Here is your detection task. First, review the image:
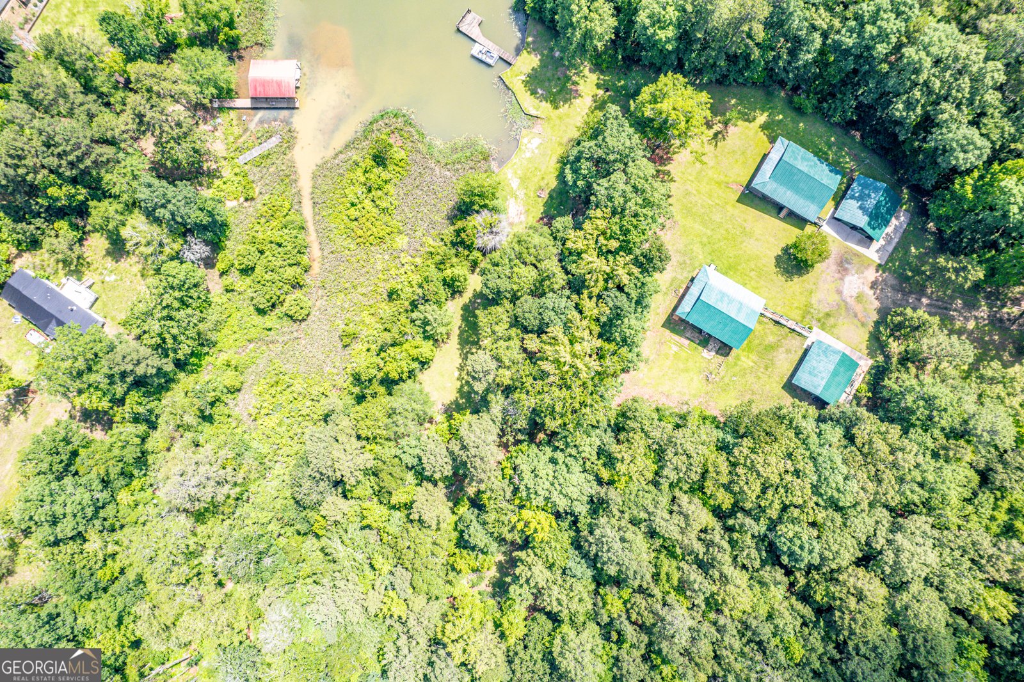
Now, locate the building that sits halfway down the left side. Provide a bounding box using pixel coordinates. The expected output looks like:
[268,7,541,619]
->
[2,268,105,345]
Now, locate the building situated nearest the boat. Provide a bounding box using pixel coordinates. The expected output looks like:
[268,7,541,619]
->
[247,59,304,106]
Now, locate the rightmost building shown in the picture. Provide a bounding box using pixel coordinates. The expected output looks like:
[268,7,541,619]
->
[830,175,902,242]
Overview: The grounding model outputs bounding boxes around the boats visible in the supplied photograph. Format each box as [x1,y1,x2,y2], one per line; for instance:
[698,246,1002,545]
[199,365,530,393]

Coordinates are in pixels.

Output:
[471,42,499,67]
